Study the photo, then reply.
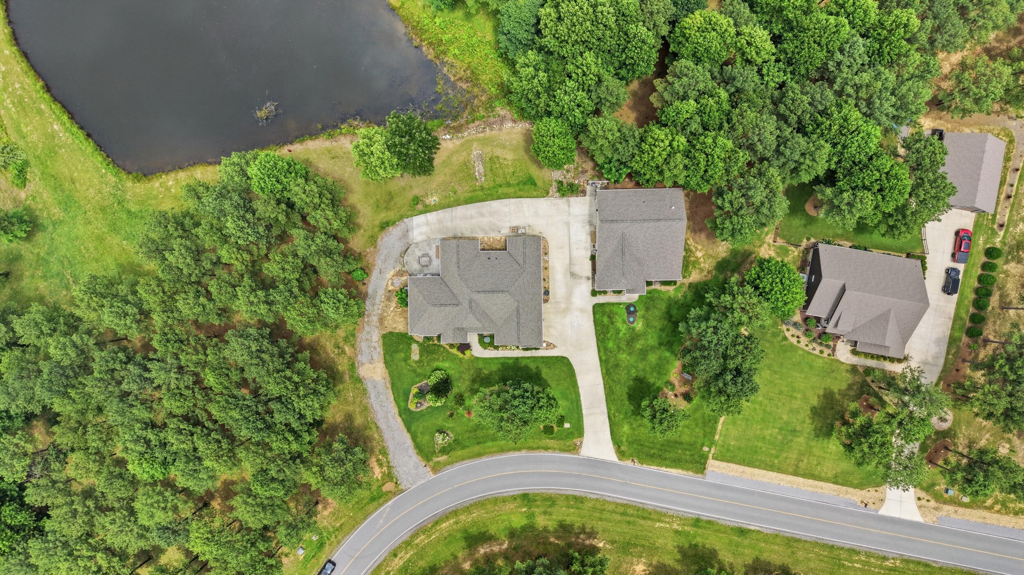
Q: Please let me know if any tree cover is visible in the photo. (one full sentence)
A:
Yes, the picture does contain tree cover.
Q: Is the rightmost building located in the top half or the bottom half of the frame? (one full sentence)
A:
Seen from above, the rightmost building lies in the top half of the view.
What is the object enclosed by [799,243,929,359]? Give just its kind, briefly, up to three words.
house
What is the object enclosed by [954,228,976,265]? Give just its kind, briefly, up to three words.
truck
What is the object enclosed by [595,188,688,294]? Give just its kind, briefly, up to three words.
house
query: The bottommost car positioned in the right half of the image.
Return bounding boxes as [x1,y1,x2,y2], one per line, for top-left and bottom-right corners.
[945,267,964,295]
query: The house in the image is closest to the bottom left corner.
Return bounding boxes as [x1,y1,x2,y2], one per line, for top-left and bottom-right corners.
[408,236,544,348]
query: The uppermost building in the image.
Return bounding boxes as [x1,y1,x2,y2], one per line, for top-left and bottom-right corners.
[941,131,1006,215]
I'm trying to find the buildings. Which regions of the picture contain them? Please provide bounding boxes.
[941,131,1006,215]
[595,188,688,294]
[408,236,544,348]
[799,243,929,359]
